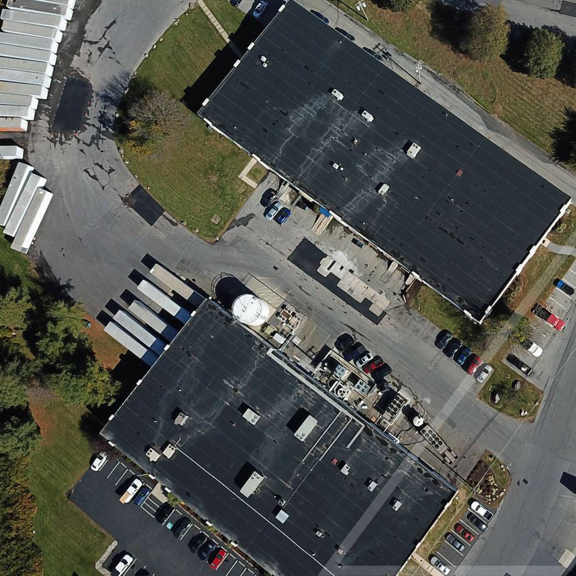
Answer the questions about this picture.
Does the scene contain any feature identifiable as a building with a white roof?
No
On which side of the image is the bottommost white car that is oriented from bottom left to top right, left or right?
left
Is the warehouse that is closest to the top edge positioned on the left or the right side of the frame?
right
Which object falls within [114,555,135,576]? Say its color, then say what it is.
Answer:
white car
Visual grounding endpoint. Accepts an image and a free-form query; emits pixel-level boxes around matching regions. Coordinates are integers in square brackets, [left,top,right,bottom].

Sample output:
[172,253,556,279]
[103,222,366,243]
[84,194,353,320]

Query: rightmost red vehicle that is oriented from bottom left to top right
[463,354,483,375]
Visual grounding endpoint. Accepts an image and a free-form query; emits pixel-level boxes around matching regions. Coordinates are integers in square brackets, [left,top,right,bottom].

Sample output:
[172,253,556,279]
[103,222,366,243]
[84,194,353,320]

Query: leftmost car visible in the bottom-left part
[90,450,110,473]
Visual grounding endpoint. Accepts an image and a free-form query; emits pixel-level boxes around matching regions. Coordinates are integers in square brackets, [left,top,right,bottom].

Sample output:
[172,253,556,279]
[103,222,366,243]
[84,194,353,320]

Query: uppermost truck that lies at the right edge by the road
[553,277,576,298]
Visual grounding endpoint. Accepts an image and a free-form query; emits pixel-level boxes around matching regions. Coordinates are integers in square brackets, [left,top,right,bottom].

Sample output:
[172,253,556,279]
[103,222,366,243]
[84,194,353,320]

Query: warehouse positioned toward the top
[197,0,571,324]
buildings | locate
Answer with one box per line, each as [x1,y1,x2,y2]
[101,299,461,576]
[197,0,571,324]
